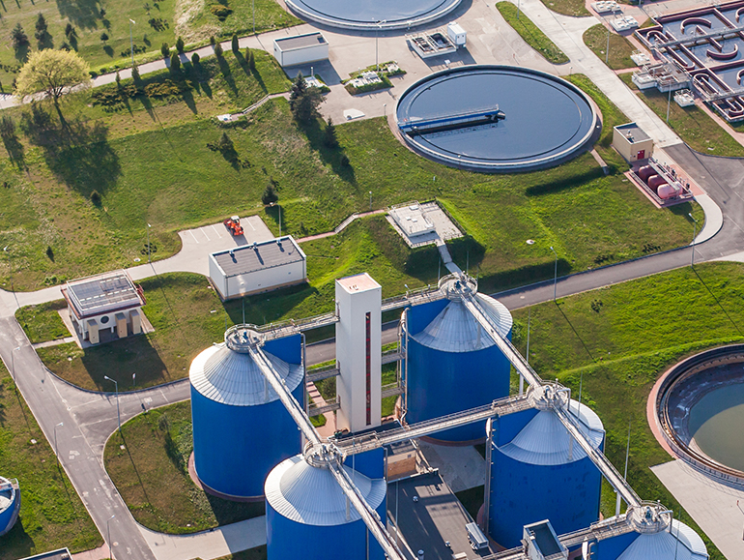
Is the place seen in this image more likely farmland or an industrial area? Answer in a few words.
industrial area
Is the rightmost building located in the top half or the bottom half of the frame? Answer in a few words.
top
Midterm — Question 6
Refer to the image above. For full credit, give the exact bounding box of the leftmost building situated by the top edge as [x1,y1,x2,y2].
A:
[270,26,328,66]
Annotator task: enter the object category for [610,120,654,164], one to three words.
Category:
building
